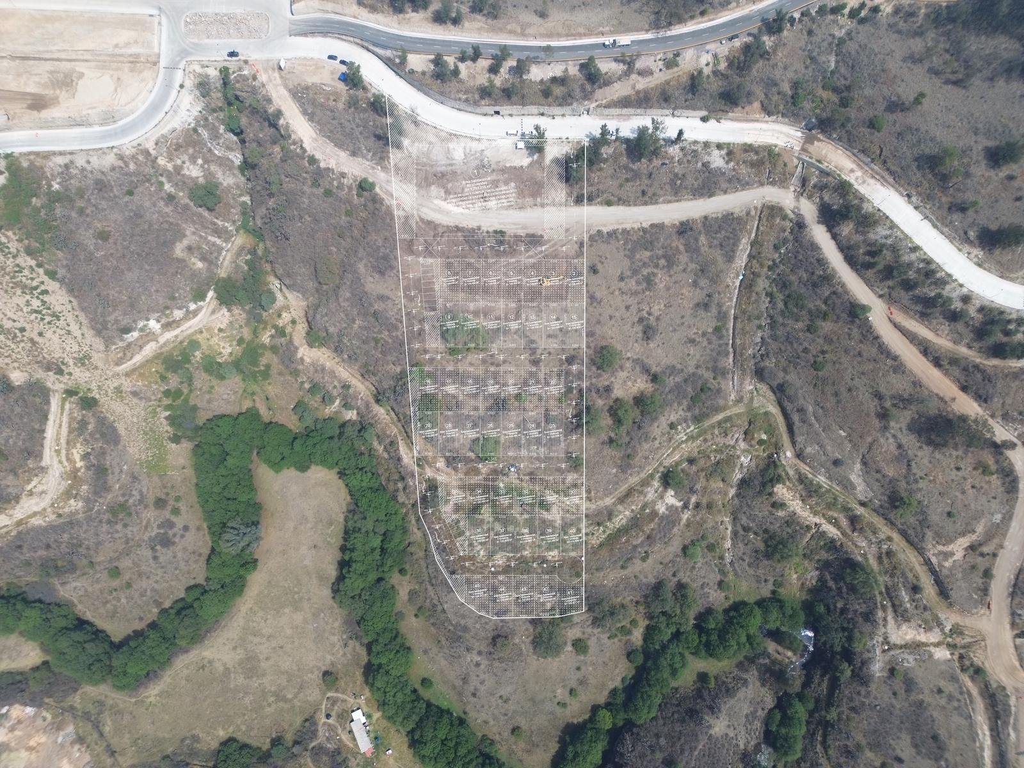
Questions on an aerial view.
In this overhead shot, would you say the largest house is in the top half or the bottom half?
bottom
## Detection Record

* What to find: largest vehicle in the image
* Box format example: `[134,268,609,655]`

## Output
[605,37,632,49]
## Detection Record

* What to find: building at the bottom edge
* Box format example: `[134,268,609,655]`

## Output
[345,706,377,753]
